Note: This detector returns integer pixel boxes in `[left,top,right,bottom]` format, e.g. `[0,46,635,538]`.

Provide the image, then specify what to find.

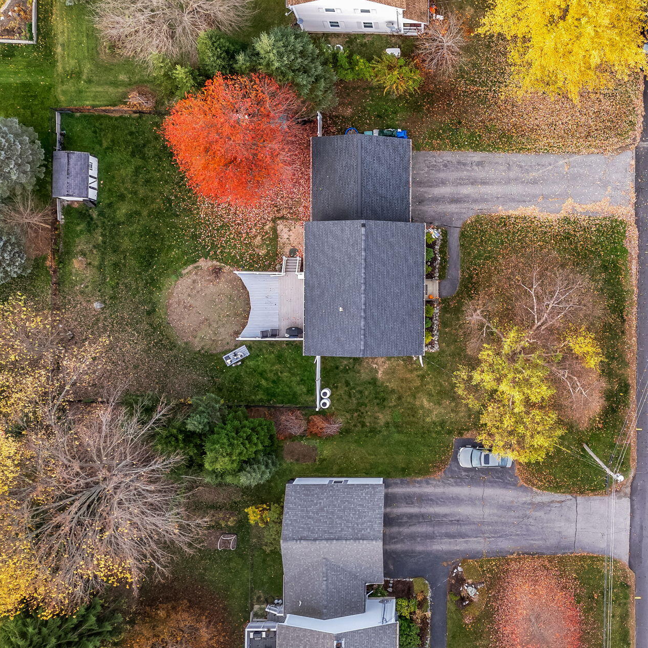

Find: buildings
[275,478,400,648]
[55,150,102,211]
[301,134,439,367]
[278,0,432,36]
